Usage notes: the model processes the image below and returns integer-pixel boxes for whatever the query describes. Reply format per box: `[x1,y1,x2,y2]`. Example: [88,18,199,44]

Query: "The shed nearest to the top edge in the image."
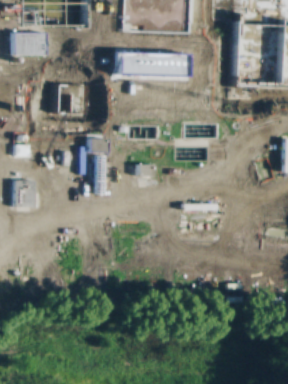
[11,32,47,60]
